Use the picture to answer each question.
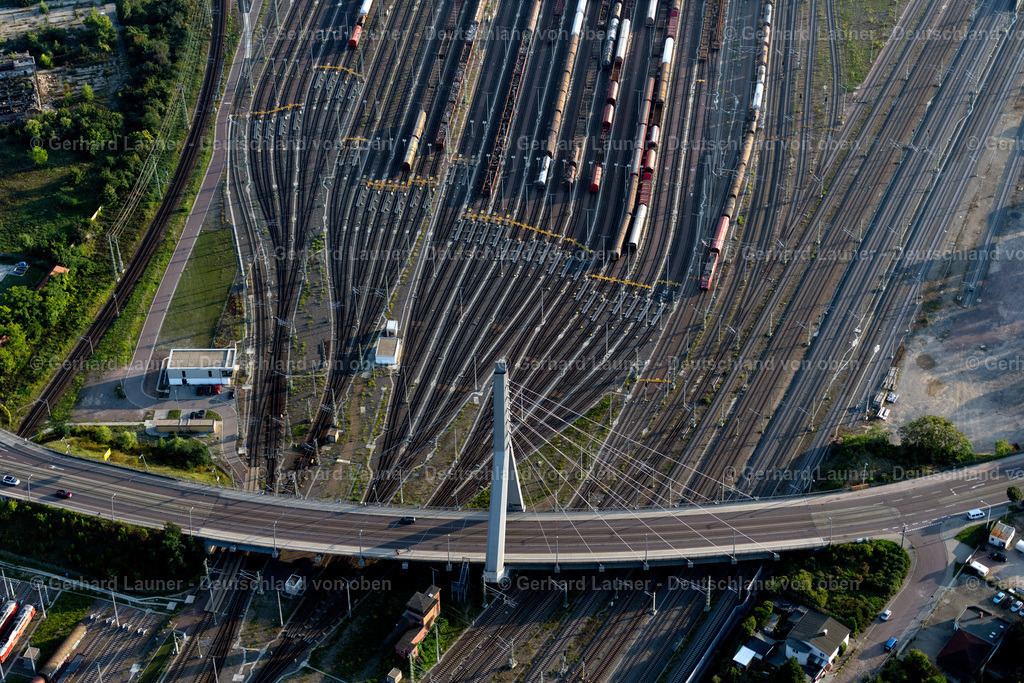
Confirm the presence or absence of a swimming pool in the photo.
No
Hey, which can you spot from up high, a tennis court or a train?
train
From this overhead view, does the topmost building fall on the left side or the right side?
left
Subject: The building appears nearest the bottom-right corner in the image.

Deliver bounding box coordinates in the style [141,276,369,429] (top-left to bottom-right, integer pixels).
[936,602,1010,683]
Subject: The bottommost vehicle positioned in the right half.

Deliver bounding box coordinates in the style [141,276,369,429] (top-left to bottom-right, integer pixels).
[883,639,899,654]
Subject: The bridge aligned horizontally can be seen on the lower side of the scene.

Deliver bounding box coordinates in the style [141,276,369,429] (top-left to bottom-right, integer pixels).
[0,357,904,600]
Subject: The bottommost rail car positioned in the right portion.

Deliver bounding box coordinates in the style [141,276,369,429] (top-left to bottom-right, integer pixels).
[701,252,718,292]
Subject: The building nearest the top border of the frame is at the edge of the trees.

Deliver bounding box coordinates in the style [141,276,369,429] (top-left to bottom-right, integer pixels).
[0,41,43,116]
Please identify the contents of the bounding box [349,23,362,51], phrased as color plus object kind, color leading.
red rail car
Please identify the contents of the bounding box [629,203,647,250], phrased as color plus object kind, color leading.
white rail car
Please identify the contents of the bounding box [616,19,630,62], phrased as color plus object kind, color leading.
white rail car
